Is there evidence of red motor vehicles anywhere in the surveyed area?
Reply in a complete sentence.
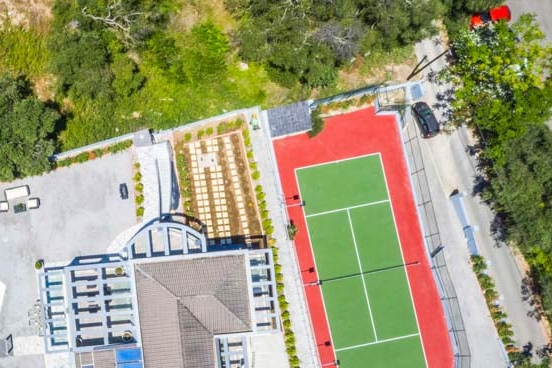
Yes, a red motor vehicle can be made out from above.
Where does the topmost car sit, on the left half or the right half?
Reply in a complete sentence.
You can find the topmost car on the right side of the picture.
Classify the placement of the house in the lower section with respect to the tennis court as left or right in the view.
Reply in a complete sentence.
The house in the lower section appears to the left of the tennis court in this view.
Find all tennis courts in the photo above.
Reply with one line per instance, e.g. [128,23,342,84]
[276,108,446,368]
